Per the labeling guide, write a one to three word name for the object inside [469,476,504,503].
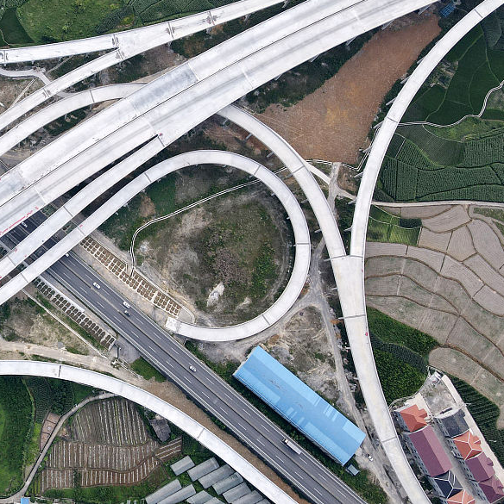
house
